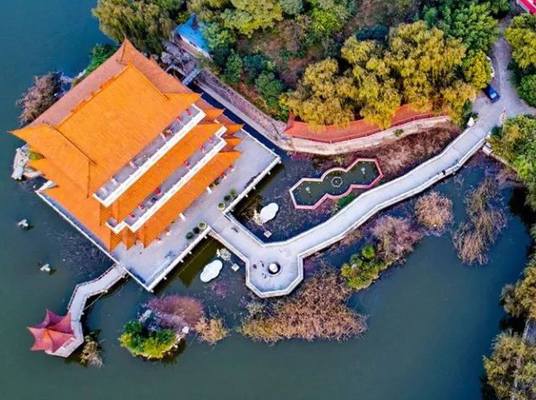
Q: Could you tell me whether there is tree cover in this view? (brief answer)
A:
Yes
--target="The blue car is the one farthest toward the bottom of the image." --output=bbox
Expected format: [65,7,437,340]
[485,84,499,102]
